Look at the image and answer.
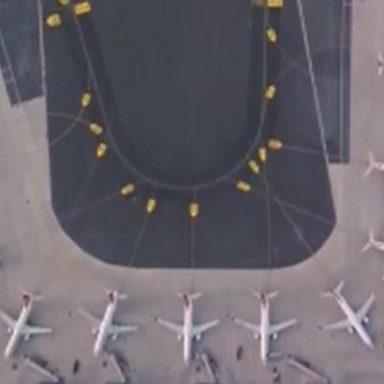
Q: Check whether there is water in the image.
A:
No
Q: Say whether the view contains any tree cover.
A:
No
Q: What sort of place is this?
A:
airport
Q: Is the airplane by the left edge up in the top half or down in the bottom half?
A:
bottom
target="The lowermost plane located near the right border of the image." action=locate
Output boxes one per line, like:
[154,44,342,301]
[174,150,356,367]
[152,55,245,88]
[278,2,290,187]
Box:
[323,282,375,348]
